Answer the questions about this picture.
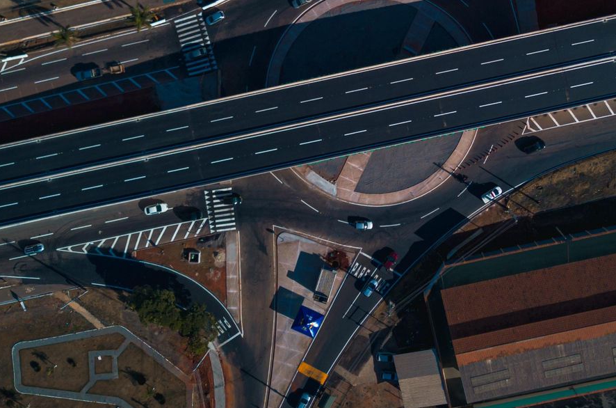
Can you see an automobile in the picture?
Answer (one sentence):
Yes, an automobile is visible in the scene.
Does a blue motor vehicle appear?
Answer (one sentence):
Yes, looking at the shot, I can spot a blue motor vehicle.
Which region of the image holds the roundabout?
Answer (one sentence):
The roundabout appears toward the top of the photo.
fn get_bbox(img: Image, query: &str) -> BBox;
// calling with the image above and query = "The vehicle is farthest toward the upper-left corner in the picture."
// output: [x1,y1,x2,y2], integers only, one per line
[76,66,103,81]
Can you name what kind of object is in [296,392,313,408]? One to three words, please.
car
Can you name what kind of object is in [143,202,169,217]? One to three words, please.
car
